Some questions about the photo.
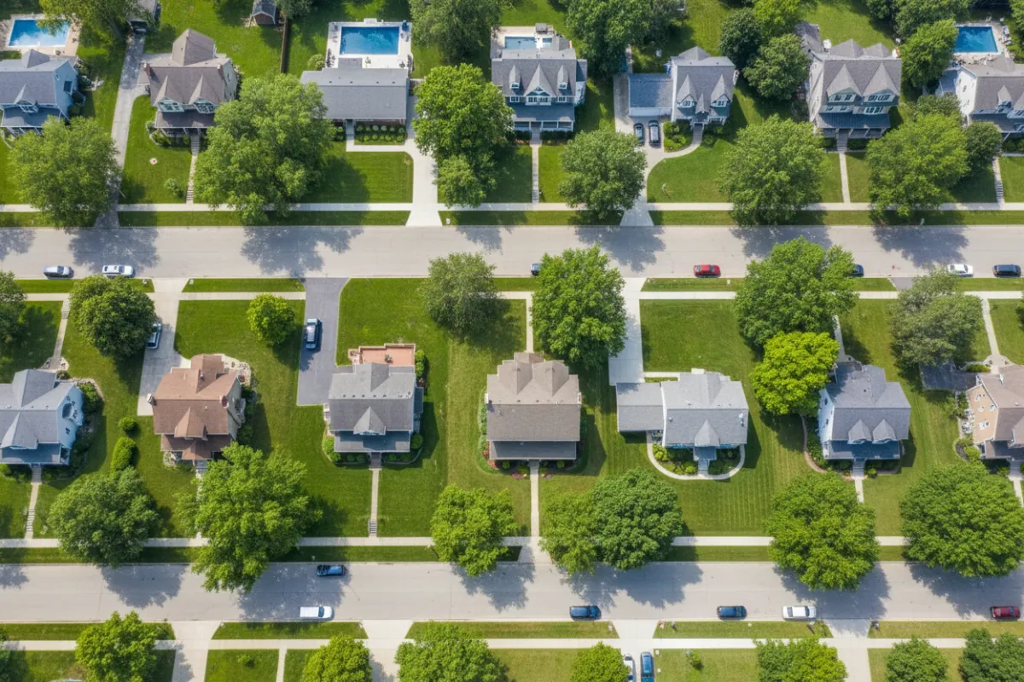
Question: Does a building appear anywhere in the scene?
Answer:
Yes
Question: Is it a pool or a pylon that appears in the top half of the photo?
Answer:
pool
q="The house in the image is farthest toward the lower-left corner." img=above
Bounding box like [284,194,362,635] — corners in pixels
[0,367,94,481]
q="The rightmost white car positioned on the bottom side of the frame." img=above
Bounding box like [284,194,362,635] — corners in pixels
[782,605,816,620]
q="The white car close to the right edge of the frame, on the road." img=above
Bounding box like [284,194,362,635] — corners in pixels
[946,263,973,276]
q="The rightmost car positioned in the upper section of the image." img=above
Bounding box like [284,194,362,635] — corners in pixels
[991,263,1021,277]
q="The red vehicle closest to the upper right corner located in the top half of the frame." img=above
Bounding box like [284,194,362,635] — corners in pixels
[693,264,721,276]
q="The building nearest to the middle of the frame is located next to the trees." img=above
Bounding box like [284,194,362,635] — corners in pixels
[482,353,583,471]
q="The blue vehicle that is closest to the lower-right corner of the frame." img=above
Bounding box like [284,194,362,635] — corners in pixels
[716,605,747,620]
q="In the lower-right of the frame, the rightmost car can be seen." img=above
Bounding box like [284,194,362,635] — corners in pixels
[989,605,1020,620]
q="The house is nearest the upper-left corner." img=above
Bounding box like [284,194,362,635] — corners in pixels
[0,46,85,132]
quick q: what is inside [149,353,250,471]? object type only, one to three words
house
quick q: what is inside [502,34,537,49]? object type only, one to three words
swimming pool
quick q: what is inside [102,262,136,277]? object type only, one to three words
car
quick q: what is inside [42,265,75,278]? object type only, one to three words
vehicle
